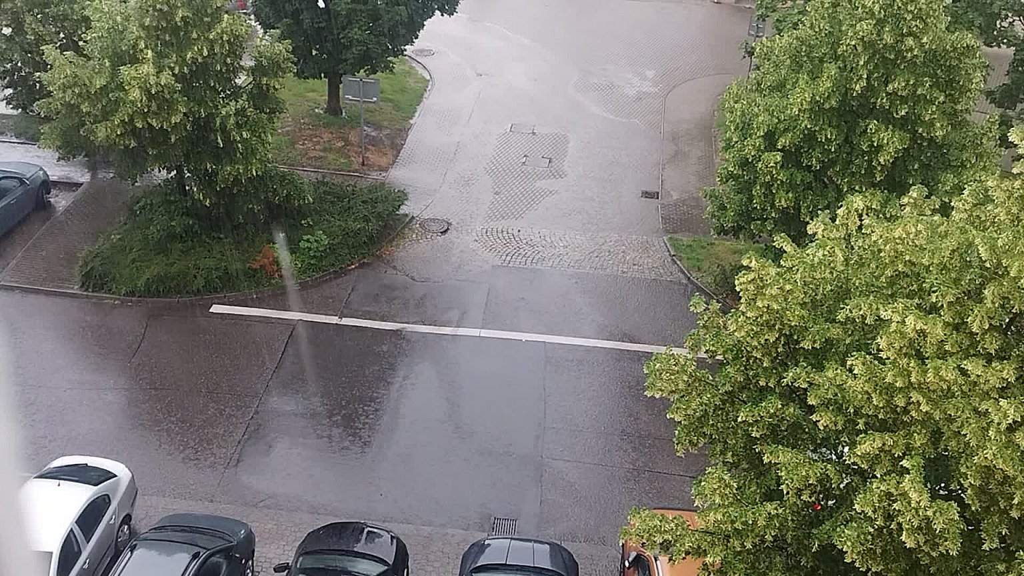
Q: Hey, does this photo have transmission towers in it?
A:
No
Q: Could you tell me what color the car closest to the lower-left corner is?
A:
white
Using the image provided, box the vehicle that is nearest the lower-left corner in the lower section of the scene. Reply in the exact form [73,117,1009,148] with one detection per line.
[0,451,143,576]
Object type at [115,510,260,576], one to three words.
car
